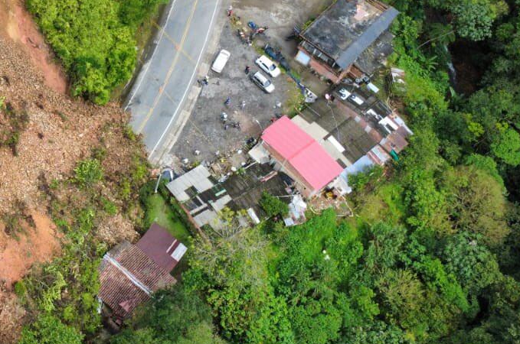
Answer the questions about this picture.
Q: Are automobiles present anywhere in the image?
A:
Yes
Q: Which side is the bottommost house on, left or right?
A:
left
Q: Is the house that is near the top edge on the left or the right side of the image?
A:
right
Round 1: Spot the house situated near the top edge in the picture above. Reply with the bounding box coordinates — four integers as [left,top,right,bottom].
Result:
[296,0,400,87]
